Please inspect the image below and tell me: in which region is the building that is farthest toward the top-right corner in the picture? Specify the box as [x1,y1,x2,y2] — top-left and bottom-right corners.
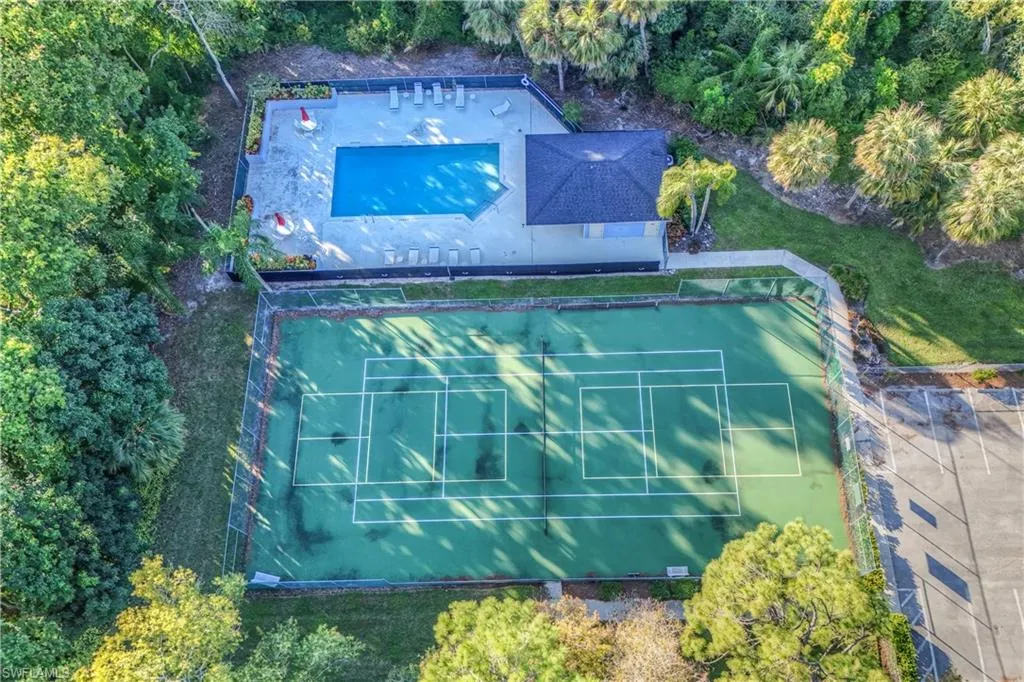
[525,129,669,243]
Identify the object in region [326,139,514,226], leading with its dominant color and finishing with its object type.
blue swimming pool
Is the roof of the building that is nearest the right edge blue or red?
blue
